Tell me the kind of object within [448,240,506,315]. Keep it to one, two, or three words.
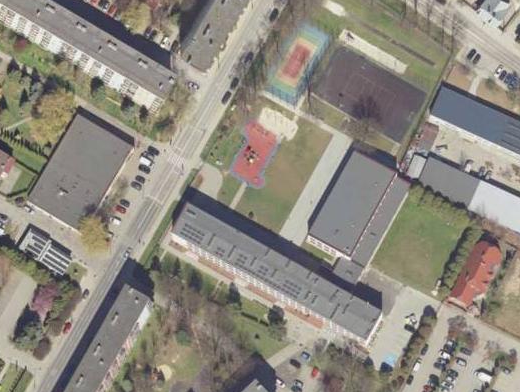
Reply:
house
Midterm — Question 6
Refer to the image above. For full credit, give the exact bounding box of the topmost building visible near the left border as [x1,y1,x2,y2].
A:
[0,0,178,111]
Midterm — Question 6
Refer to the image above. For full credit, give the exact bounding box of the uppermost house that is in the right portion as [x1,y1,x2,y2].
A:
[477,0,511,29]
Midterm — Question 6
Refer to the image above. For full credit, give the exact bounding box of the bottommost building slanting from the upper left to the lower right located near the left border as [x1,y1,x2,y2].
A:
[19,230,73,278]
